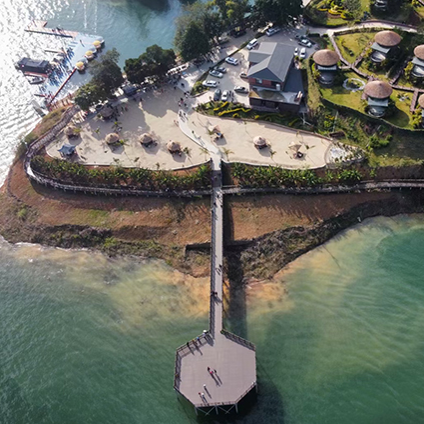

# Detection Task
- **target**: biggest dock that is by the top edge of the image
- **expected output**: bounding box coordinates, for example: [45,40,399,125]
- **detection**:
[24,21,103,104]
